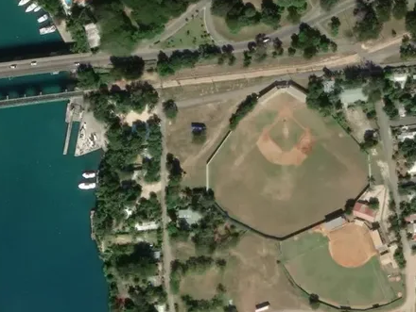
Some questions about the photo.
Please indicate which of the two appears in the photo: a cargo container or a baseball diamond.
baseball diamond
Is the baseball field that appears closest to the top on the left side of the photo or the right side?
right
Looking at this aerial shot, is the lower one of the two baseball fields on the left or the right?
right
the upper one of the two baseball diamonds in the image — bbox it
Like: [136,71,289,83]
[207,89,370,239]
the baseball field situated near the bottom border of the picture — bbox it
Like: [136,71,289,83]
[280,223,399,309]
